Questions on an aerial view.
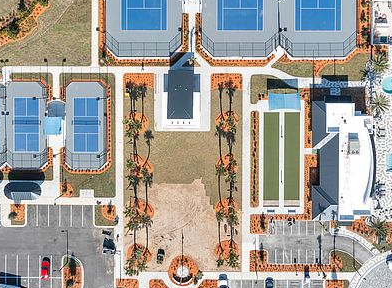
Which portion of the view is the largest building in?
right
